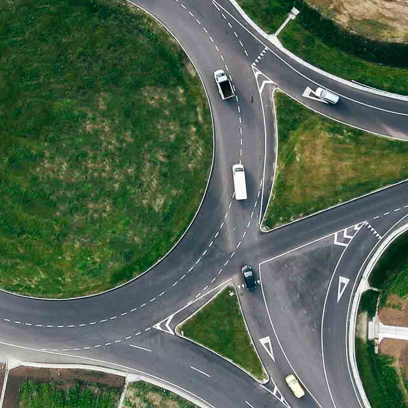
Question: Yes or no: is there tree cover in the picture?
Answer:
No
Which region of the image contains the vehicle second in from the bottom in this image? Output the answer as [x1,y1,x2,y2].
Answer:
[241,264,256,290]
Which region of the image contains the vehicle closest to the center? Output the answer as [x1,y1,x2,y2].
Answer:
[231,164,246,200]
